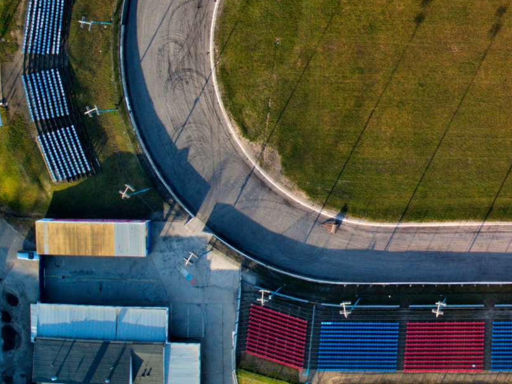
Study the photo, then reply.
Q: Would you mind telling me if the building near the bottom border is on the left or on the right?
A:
left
